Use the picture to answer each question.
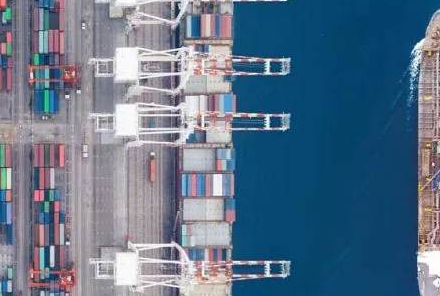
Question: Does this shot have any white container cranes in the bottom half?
Yes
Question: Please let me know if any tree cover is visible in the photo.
No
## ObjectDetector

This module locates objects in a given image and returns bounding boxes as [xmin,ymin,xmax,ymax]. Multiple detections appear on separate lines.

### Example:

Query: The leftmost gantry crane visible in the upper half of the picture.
[28,61,83,88]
